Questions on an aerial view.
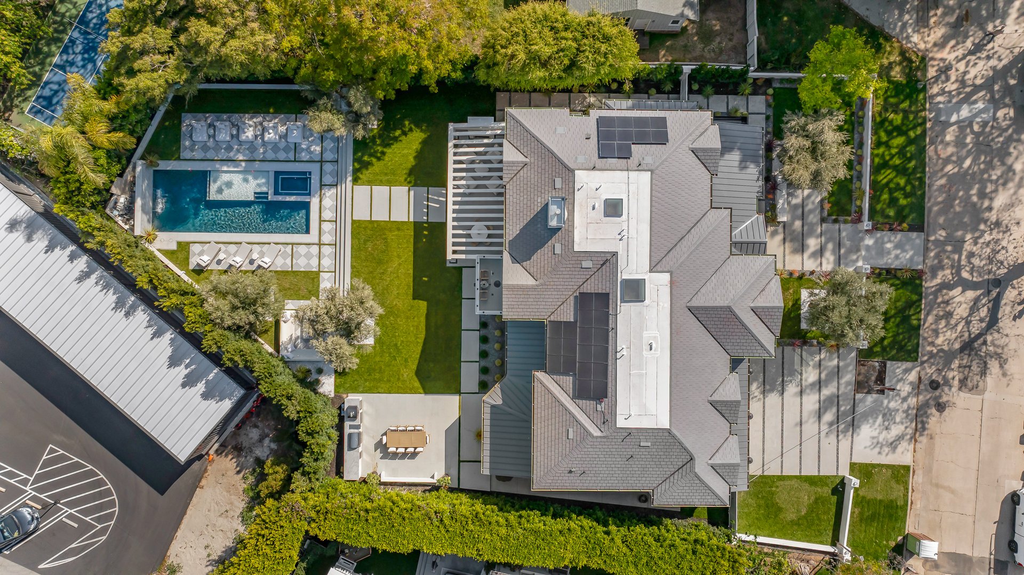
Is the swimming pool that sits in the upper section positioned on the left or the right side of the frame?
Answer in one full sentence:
You can find the swimming pool that sits in the upper section on the left side of the picture.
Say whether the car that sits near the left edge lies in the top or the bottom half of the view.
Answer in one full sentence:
The bottom half of the photo is where the car that sits near the left edge is.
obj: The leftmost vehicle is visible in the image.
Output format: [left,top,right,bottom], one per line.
[0,506,38,556]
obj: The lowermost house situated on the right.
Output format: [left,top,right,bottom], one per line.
[477,97,784,508]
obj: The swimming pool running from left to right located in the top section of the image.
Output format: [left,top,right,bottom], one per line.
[133,160,321,249]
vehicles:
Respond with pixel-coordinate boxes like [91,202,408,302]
[1010,490,1024,568]
[0,506,38,556]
